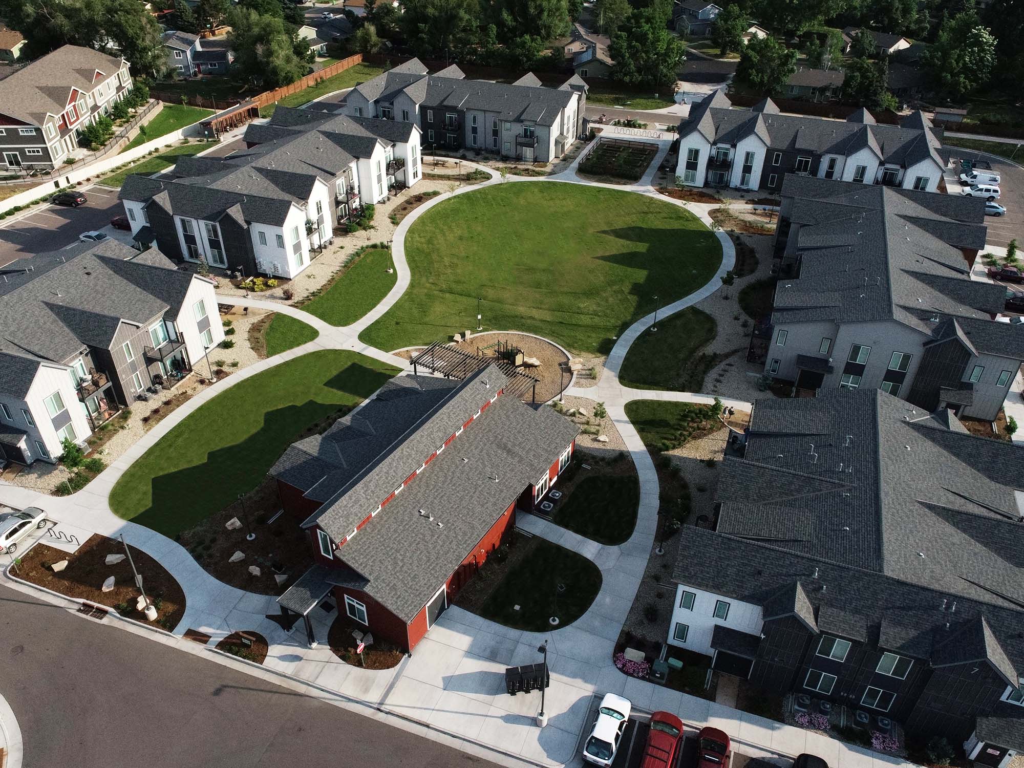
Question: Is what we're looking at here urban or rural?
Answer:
urban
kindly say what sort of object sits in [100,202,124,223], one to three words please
car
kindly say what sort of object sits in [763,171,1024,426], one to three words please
building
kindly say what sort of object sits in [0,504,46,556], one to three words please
car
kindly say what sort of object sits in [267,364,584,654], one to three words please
building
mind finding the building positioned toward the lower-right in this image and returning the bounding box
[663,388,1024,768]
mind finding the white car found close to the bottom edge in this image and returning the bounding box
[582,696,630,768]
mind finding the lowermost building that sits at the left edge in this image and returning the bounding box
[0,237,223,471]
